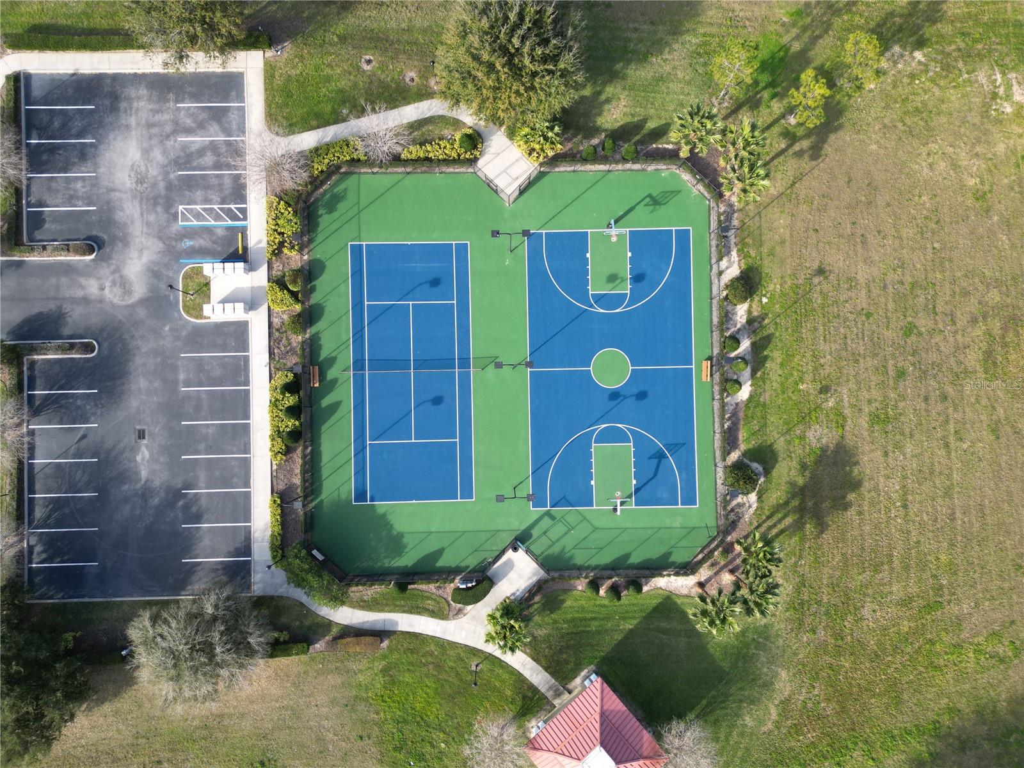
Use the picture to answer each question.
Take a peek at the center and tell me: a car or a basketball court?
basketball court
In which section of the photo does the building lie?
bottom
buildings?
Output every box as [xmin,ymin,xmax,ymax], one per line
[519,674,669,768]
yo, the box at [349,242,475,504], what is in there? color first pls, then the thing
blue tennis court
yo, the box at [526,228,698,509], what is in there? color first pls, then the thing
blue basketball court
